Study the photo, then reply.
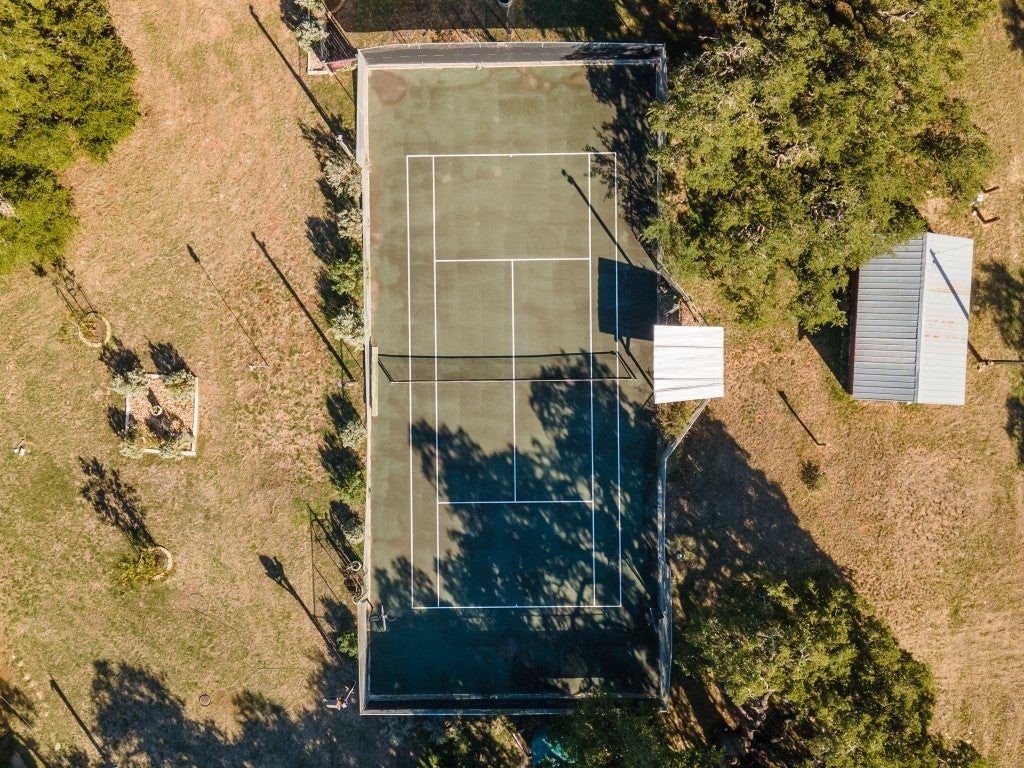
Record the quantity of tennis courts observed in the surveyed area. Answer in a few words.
1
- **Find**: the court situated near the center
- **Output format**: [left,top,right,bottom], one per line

[367,62,662,698]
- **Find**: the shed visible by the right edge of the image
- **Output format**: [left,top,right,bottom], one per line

[847,232,973,405]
